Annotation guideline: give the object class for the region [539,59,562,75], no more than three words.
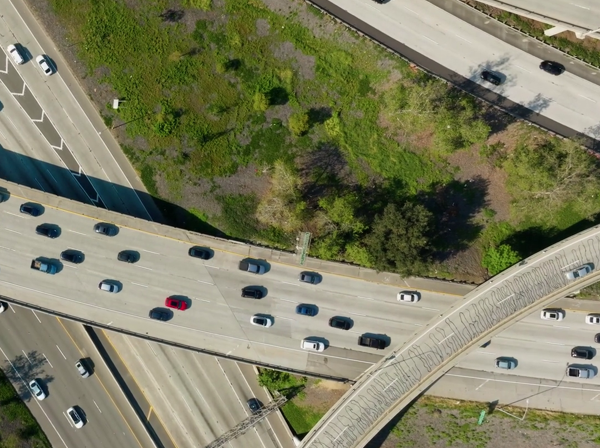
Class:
car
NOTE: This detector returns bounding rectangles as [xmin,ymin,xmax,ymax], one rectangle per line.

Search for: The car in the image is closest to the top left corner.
[6,43,24,66]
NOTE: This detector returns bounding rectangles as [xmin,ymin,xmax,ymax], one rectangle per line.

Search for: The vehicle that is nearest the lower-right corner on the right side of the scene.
[567,366,595,378]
